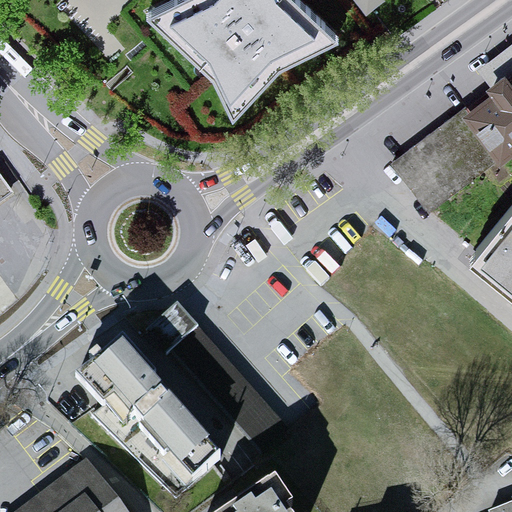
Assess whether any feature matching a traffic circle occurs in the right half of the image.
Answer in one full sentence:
No, I see no traffic circle in the right half of the image.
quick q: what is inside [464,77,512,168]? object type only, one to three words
house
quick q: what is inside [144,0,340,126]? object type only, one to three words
building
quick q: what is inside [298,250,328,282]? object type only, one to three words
truck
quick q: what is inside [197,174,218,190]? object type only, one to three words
car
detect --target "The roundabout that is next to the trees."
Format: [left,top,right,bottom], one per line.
[61,163,213,301]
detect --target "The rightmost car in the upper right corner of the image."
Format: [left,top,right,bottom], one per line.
[466,52,490,72]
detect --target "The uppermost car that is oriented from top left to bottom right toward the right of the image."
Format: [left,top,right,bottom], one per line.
[443,83,462,106]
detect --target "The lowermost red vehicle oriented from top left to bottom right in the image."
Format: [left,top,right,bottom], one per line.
[270,274,289,294]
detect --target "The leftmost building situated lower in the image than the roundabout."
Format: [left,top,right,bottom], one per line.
[12,457,130,512]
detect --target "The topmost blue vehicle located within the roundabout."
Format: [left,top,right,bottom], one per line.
[152,176,172,196]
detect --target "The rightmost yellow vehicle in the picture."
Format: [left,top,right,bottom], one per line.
[338,219,360,243]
